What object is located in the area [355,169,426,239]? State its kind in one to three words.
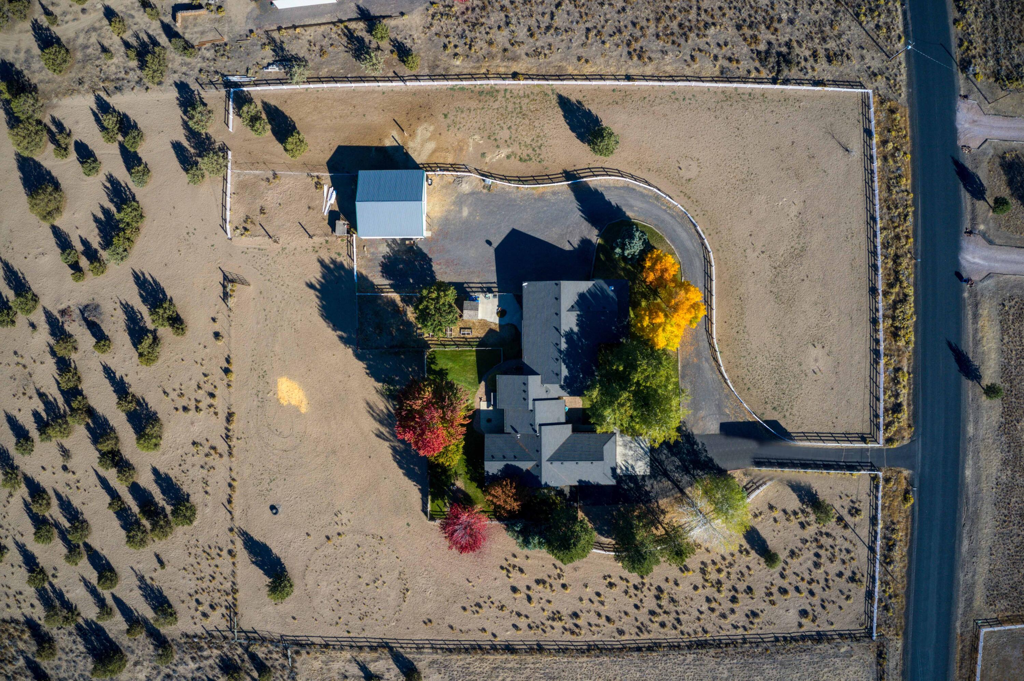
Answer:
barn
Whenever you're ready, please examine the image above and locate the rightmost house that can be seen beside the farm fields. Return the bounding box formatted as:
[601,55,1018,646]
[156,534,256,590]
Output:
[484,278,629,488]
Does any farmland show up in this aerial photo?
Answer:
Yes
